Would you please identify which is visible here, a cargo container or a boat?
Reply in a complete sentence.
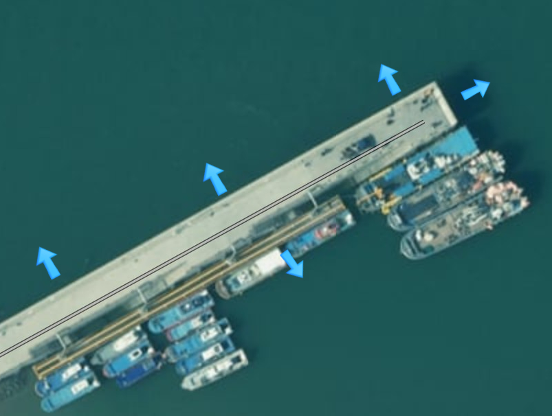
Visible in the photo is a boat.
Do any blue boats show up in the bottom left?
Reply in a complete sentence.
Yes, a blue boat appears in the bottom left.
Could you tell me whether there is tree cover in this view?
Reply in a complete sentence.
No, there's no tree cover in this view.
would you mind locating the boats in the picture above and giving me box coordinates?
[91,324,152,365]
[104,343,159,377]
[36,358,94,393]
[176,333,239,373]
[401,181,532,255]
[42,373,103,411]
[166,320,236,359]
[182,350,252,389]
[287,211,357,254]
[220,247,290,295]
[356,129,480,210]
[389,155,511,227]
[166,309,217,340]
[148,291,217,331]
